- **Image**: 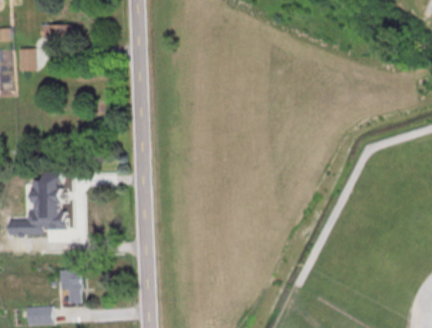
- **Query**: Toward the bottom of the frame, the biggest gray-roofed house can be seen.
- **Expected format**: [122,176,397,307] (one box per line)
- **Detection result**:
[8,169,65,237]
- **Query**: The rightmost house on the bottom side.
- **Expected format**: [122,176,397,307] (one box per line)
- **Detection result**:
[60,272,82,306]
